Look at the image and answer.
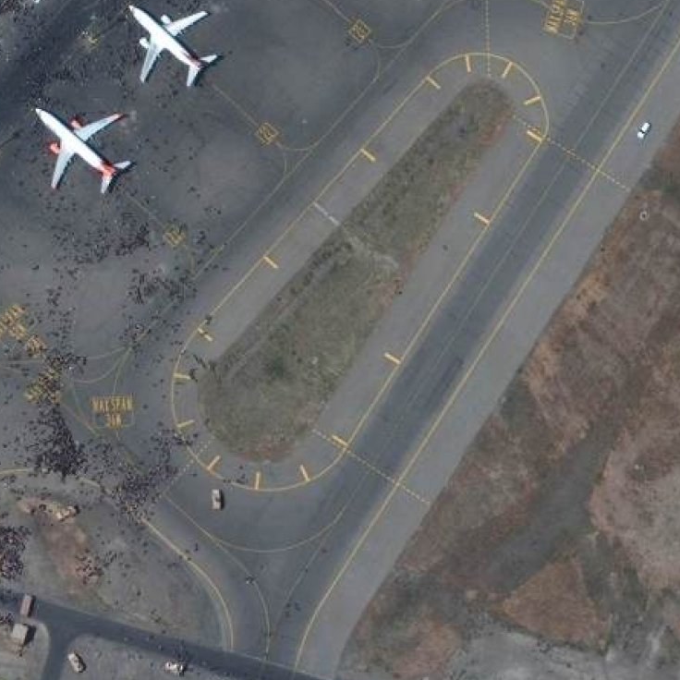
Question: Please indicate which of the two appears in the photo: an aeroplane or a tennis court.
aeroplane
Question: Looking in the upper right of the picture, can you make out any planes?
No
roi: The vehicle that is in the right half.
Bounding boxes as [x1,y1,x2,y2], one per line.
[637,121,650,138]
